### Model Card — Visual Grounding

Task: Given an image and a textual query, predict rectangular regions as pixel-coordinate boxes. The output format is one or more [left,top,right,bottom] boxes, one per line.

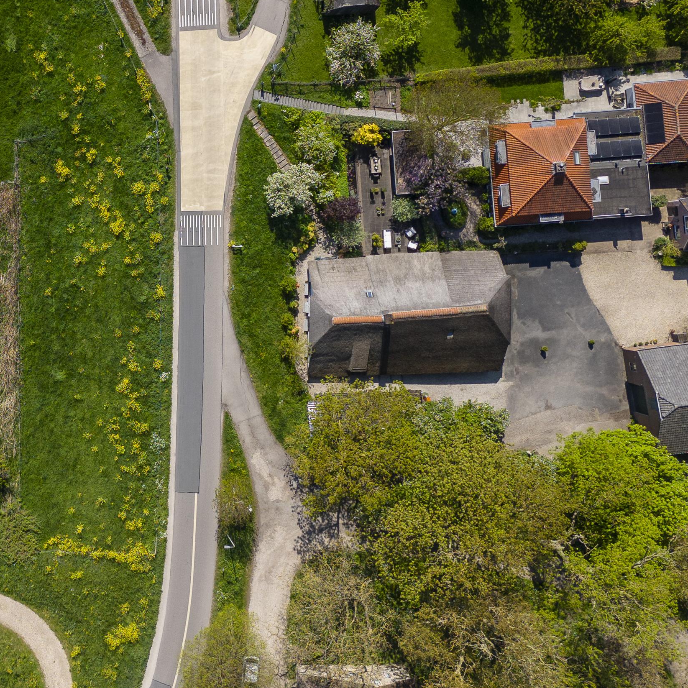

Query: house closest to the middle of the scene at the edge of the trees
[306,250,510,379]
